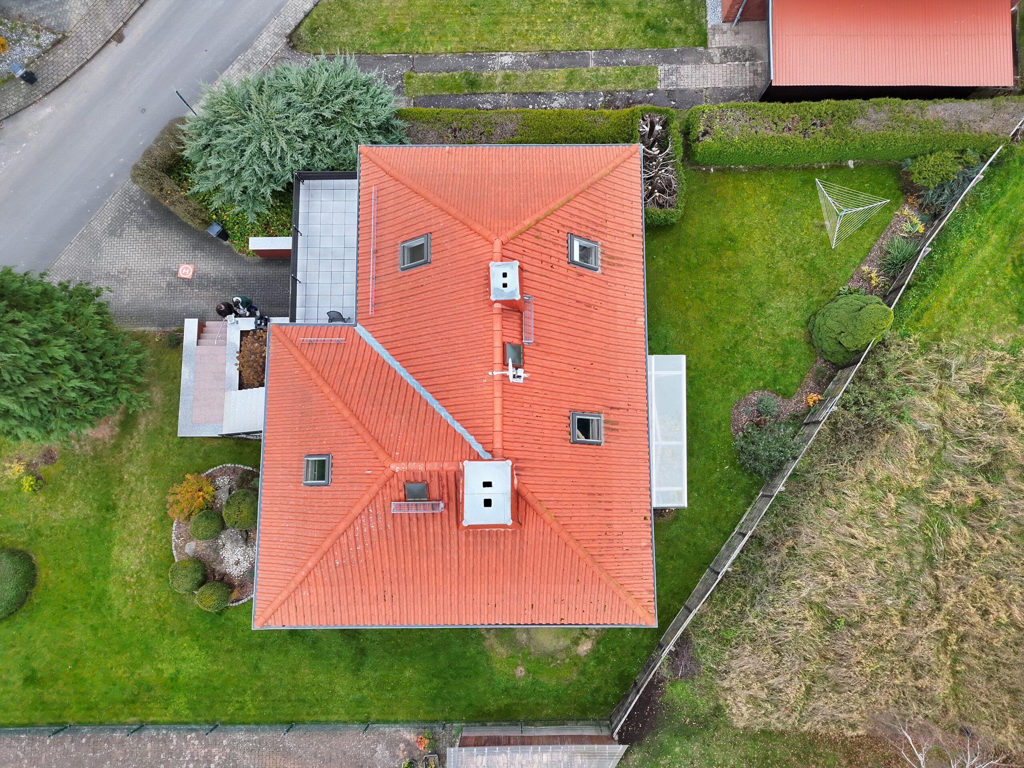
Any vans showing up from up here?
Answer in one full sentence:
No, I can't see a single van in this photo.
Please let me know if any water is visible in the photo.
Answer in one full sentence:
No, there's no water in this view.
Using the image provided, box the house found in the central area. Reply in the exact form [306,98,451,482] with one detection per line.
[250,142,658,630]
